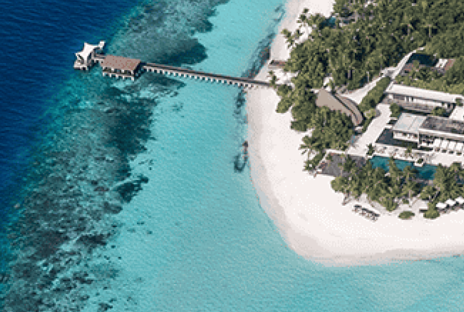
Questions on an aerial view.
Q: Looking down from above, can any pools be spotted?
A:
Yes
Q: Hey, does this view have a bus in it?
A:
No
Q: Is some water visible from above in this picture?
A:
Yes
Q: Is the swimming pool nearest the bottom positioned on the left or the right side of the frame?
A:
right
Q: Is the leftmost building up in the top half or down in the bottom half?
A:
top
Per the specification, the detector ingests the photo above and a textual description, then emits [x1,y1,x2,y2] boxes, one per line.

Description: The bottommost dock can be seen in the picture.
[102,65,274,91]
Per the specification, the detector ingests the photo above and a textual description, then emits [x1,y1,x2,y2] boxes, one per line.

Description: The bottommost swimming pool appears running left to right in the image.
[367,156,464,183]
